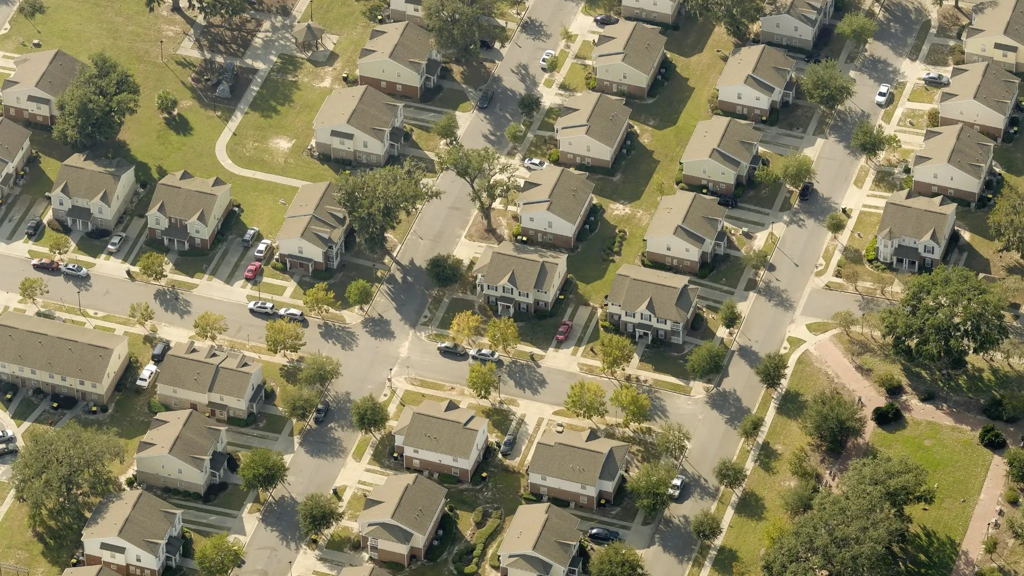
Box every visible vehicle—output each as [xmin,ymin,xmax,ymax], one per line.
[241,228,259,248]
[923,73,951,86]
[437,342,466,357]
[478,89,493,108]
[715,194,742,209]
[245,262,262,281]
[277,307,306,323]
[107,233,125,253]
[254,240,272,260]
[805,53,832,65]
[31,258,59,272]
[313,401,330,423]
[26,217,43,237]
[592,14,620,25]
[138,366,156,387]
[151,341,170,363]
[60,264,88,279]
[501,434,518,455]
[876,85,891,105]
[521,157,550,171]
[556,322,573,342]
[669,476,685,498]
[247,301,276,316]
[0,444,22,459]
[588,525,618,543]
[798,180,814,201]
[540,50,555,69]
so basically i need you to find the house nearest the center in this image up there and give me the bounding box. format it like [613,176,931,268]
[472,241,570,317]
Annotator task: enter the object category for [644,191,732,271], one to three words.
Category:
house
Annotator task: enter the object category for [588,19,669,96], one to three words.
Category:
house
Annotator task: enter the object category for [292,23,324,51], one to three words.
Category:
gazebo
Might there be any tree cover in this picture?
Yes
